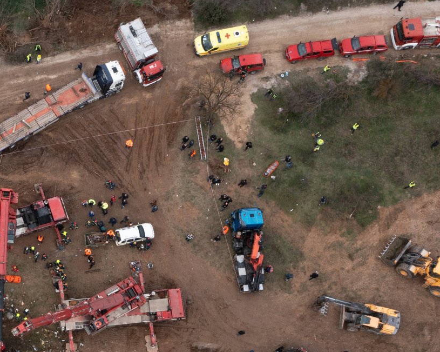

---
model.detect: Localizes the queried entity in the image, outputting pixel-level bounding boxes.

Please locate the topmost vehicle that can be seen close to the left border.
[0,57,128,156]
